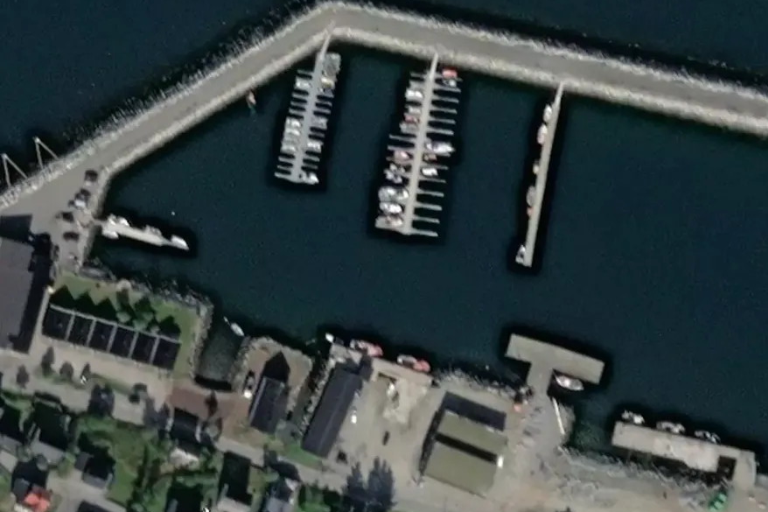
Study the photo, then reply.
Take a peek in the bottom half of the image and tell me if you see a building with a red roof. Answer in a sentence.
Yes, a building with a red roof shows up in the bottom half of the image.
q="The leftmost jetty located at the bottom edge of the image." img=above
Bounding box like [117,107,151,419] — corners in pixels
[612,422,756,488]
